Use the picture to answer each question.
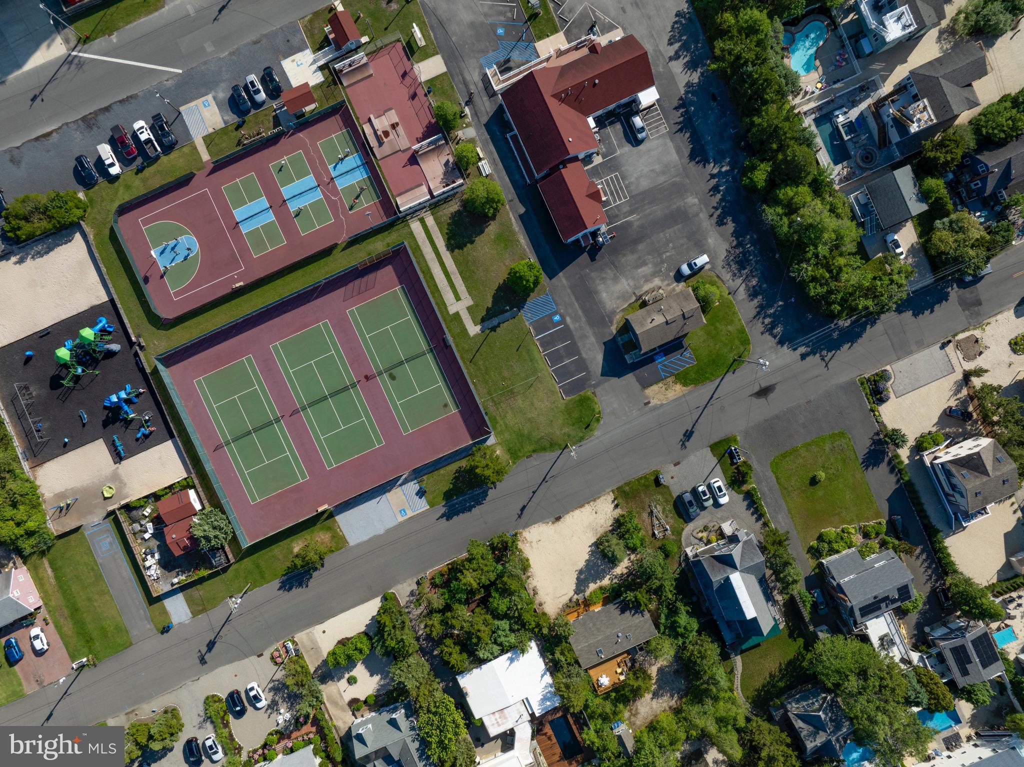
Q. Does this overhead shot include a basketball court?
Yes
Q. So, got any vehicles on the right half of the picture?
Yes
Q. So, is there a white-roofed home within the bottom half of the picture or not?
Yes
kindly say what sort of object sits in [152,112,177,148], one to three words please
truck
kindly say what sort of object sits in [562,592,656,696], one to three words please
house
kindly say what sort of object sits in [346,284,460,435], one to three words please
tennis court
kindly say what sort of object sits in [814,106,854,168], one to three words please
swimming pool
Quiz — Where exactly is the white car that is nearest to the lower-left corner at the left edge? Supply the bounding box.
[32,626,50,652]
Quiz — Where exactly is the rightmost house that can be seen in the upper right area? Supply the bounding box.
[953,125,1024,201]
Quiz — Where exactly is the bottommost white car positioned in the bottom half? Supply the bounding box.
[205,732,224,761]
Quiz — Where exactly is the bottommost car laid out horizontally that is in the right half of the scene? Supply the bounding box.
[941,405,972,421]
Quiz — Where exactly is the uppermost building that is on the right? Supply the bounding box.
[840,0,946,61]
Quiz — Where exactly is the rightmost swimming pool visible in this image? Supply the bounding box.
[990,624,1021,650]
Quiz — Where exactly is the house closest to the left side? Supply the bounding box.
[0,565,41,626]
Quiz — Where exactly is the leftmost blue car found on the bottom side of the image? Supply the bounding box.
[6,634,26,664]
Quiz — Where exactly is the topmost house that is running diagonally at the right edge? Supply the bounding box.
[868,42,987,151]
